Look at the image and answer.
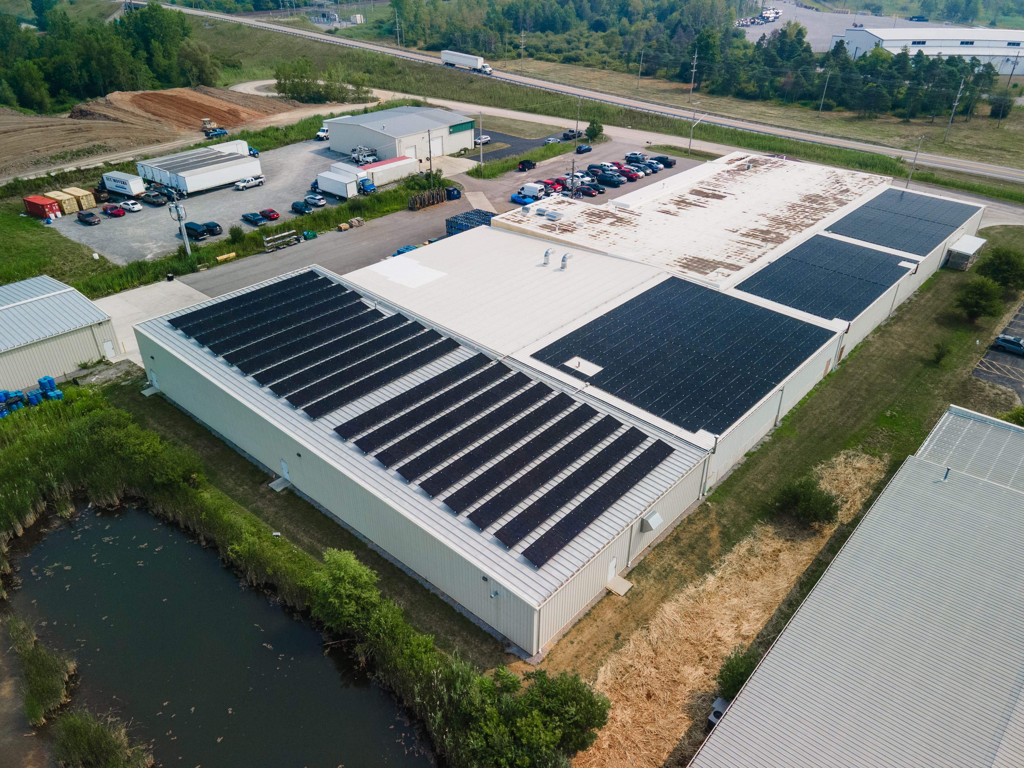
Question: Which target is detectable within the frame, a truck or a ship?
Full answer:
Of the two, only a truck appears.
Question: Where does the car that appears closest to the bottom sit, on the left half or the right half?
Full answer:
The car that appears closest to the bottom is on the right side of the image.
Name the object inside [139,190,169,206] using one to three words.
vehicle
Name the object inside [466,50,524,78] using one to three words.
truck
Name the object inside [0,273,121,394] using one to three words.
shed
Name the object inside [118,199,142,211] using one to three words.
vehicle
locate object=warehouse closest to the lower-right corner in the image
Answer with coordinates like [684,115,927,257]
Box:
[683,395,1024,768]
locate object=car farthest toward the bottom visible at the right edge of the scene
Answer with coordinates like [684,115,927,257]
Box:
[989,332,1024,353]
